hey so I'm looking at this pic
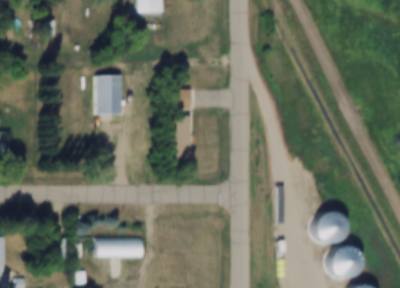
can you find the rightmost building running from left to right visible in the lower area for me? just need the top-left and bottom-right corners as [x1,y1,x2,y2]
[92,238,145,262]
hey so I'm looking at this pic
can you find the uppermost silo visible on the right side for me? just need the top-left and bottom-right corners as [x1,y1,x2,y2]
[308,209,349,246]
